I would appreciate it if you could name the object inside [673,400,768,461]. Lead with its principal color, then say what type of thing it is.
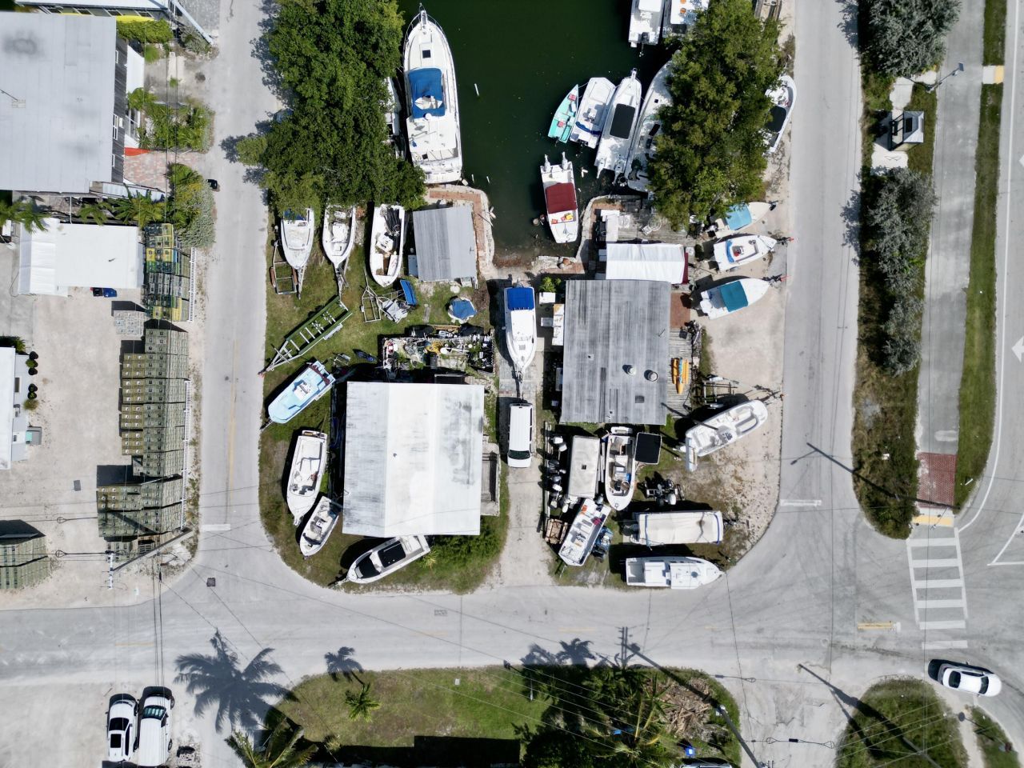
white boat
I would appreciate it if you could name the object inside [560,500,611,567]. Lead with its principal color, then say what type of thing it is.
white boat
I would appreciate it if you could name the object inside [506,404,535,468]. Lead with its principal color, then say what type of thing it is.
white van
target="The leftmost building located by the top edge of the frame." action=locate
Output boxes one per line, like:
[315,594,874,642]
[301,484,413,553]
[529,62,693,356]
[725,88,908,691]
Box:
[0,0,127,193]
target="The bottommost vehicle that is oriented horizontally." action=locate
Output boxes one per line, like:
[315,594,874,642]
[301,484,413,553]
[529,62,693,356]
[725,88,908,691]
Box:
[940,664,1005,701]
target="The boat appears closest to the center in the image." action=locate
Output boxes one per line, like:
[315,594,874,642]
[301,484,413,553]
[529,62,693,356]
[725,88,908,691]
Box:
[503,276,539,372]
